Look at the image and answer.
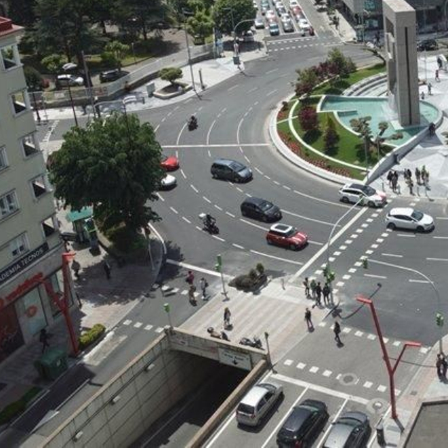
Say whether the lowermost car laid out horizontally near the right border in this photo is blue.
No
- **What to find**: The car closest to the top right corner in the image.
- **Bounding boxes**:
[416,39,442,52]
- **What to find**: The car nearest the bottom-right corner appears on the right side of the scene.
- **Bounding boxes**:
[319,400,375,448]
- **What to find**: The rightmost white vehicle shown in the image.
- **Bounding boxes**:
[384,207,435,231]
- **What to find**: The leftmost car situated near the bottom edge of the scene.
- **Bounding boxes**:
[270,390,333,448]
